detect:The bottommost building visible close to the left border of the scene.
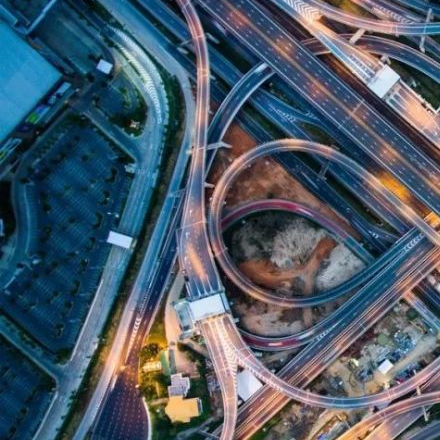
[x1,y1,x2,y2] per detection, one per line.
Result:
[0,18,70,150]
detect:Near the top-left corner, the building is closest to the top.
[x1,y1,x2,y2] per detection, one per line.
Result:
[0,0,59,34]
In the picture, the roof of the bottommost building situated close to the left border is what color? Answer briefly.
blue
